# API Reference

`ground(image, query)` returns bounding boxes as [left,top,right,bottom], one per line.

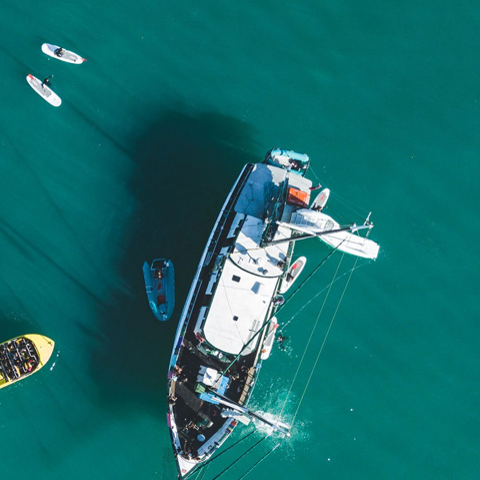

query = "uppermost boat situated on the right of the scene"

[268,149,316,179]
